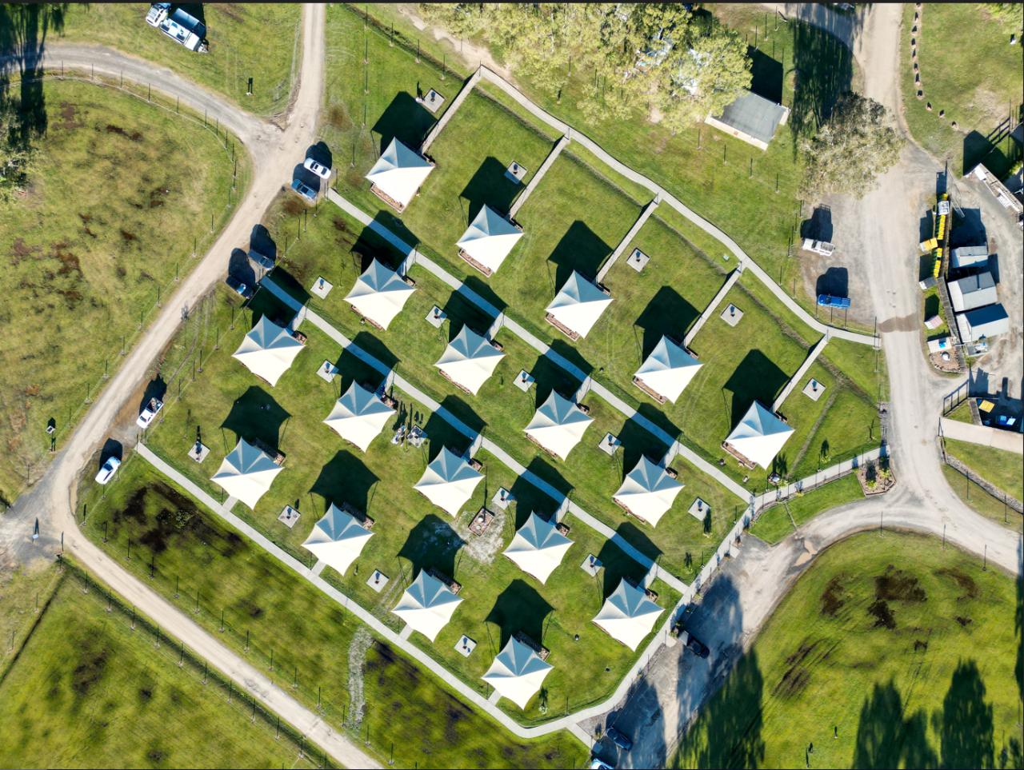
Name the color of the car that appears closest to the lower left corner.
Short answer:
white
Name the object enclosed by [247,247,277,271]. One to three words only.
truck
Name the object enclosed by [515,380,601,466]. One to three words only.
tent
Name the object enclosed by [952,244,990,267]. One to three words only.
shed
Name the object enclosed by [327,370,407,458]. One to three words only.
tent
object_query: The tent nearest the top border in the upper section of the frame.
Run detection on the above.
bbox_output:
[361,136,443,220]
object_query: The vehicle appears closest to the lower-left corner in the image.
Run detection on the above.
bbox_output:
[96,457,121,484]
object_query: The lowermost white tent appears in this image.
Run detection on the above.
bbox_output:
[476,619,559,703]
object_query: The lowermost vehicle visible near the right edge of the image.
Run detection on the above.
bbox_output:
[986,409,1011,424]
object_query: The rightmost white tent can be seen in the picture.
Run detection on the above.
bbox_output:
[708,389,789,466]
